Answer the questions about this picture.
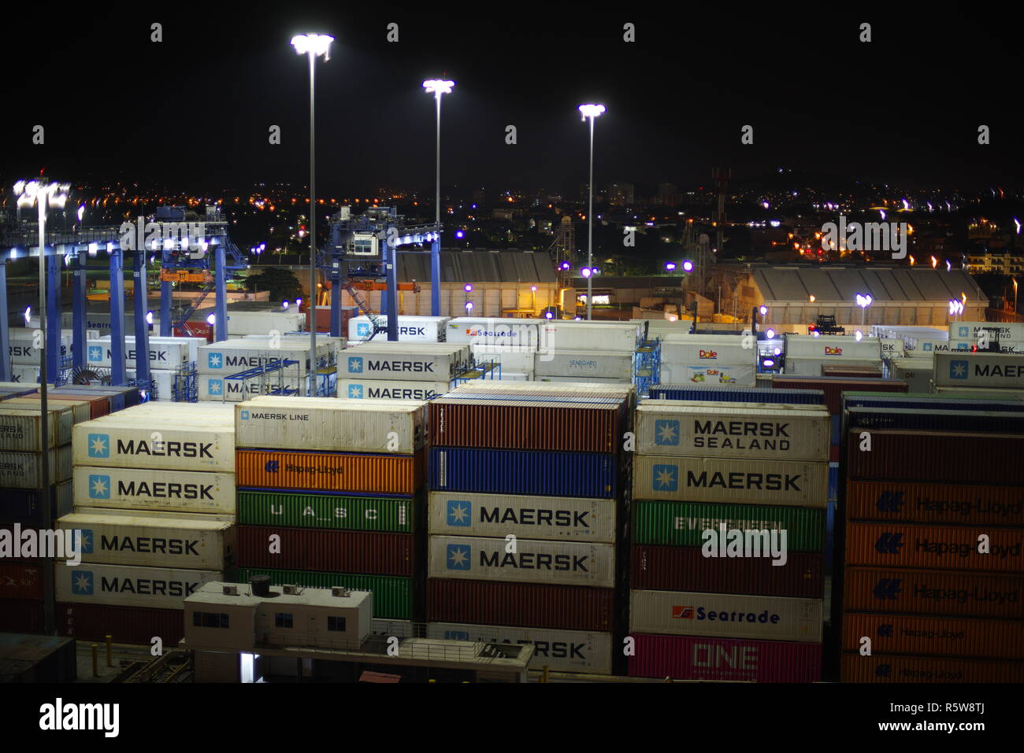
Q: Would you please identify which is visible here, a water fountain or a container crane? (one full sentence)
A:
I can see a container crane in this picture.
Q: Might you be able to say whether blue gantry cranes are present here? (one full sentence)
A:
Yes, there is a blue gantry crane in the image.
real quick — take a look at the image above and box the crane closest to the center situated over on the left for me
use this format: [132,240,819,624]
[310,187,443,389]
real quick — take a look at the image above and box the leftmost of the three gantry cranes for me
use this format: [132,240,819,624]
[0,223,130,387]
